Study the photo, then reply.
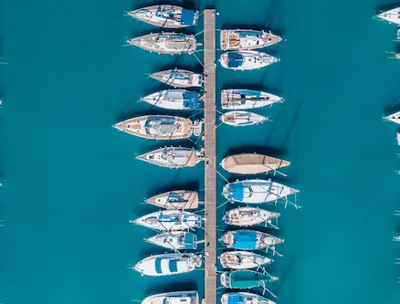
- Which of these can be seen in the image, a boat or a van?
boat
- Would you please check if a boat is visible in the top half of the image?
Yes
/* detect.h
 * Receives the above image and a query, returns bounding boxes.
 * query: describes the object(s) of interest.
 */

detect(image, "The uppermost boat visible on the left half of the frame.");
[118,3,202,30]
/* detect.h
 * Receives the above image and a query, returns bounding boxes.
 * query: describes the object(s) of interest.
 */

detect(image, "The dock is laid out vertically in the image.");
[203,9,216,304]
